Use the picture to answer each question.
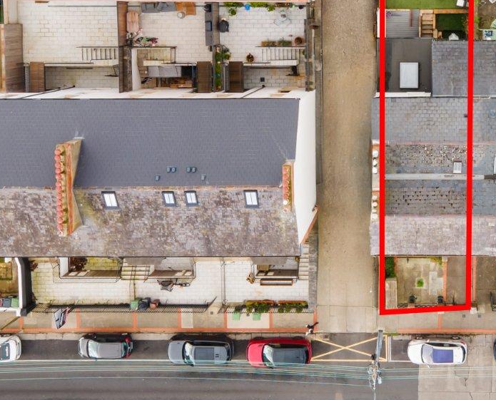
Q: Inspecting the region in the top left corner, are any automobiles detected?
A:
No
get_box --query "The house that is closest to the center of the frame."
[171,87,318,257]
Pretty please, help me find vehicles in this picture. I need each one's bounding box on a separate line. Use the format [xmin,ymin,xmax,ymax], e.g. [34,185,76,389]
[409,336,468,369]
[249,335,312,371]
[167,334,234,371]
[76,333,133,364]
[0,334,20,363]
